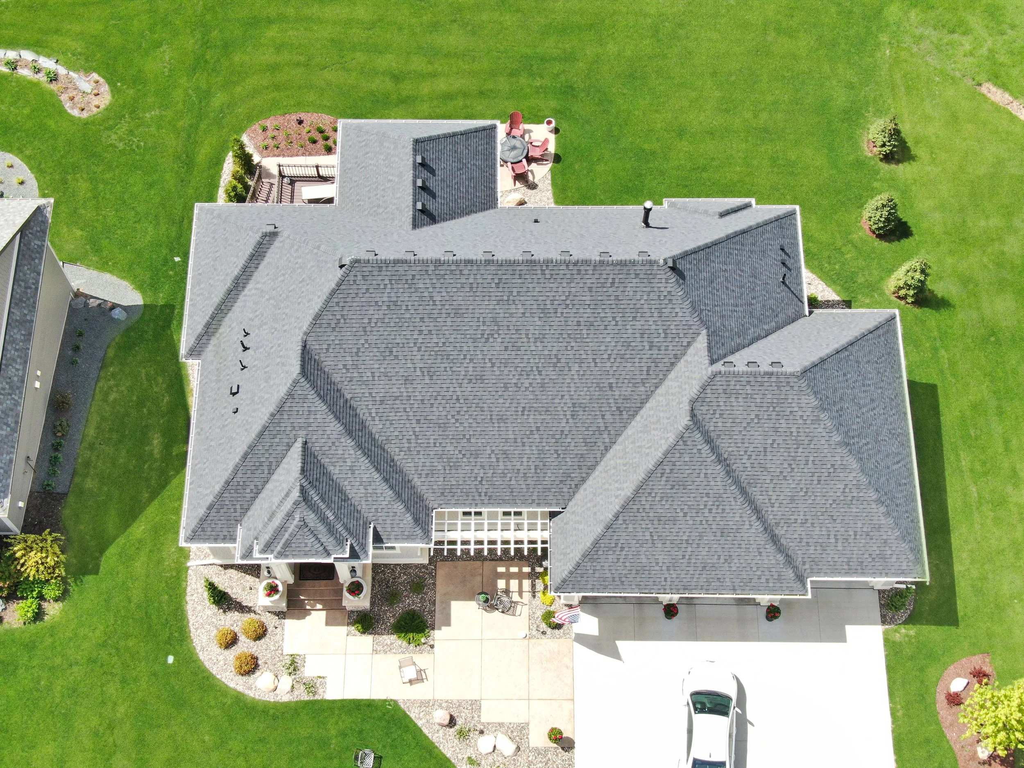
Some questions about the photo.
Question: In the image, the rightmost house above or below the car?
above it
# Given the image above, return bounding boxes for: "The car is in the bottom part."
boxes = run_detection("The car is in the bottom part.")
[673,659,744,768]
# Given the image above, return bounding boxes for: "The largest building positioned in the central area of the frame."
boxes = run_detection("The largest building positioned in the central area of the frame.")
[180,118,931,611]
